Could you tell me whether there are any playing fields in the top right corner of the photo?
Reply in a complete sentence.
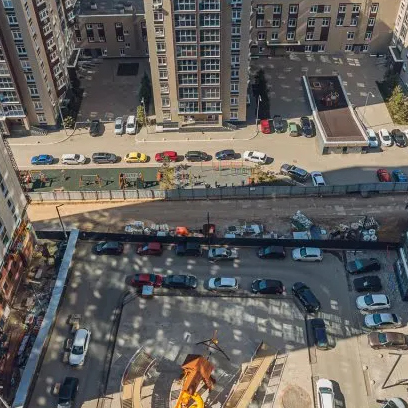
No, looking in the top right corner of the photo, there is no playing field.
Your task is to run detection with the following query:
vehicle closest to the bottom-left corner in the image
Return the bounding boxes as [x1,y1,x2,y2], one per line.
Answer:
[55,377,82,408]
